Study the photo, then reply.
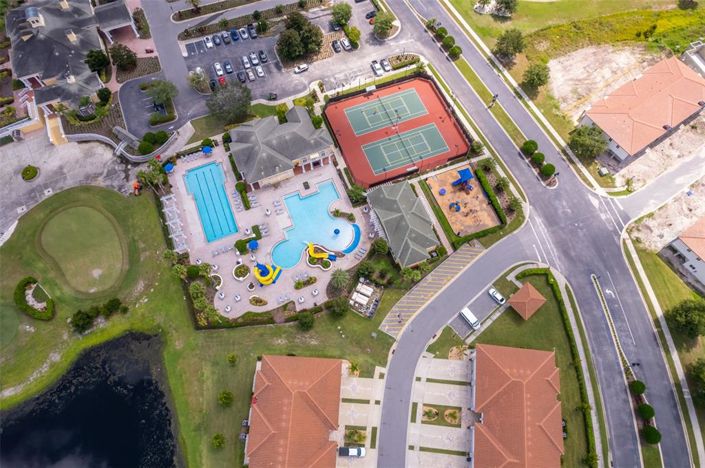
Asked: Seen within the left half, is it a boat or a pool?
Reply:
pool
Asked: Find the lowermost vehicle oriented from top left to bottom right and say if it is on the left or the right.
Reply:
right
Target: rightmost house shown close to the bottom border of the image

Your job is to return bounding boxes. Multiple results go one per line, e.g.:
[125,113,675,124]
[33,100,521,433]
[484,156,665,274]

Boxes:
[472,345,571,468]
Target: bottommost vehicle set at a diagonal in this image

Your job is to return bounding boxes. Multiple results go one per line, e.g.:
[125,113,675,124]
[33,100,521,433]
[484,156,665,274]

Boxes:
[461,304,482,330]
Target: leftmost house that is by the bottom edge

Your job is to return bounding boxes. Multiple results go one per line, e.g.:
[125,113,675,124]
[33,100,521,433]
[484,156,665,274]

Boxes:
[243,356,341,468]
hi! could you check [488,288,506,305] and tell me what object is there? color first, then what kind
white car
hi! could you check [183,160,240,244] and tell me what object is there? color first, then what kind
blue swimming pool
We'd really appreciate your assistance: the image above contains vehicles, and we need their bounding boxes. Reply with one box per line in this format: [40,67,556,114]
[366,17,375,25]
[230,28,239,40]
[221,32,230,43]
[371,59,382,74]
[246,69,255,81]
[364,10,376,18]
[381,56,390,70]
[248,51,259,65]
[255,65,264,77]
[212,34,220,45]
[224,61,233,72]
[339,447,366,457]
[293,64,308,73]
[204,37,213,48]
[240,28,248,38]
[241,56,250,67]
[332,40,341,52]
[488,288,506,305]
[461,304,482,330]
[214,63,222,74]
[331,19,340,30]
[258,50,267,61]
[237,71,245,83]
[246,23,257,36]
